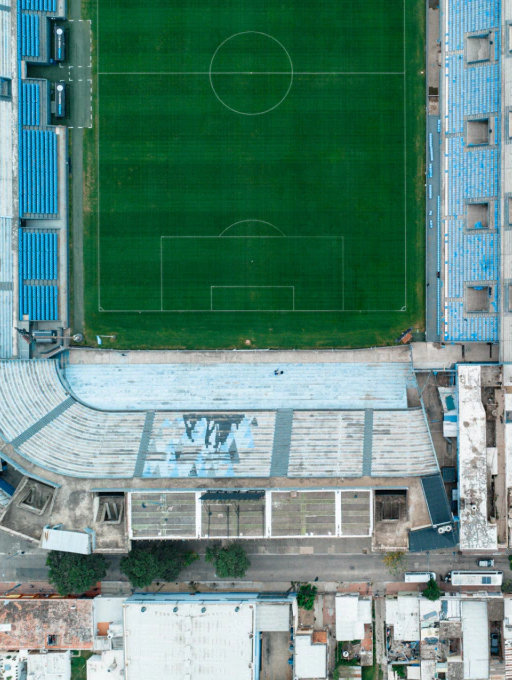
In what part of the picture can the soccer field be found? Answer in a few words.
top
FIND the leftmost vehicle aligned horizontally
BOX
[404,571,436,585]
